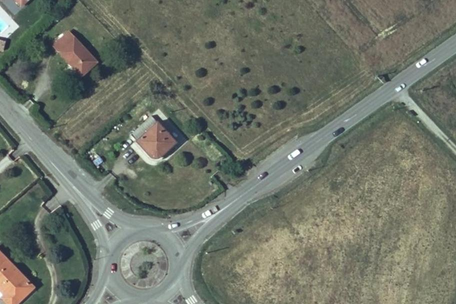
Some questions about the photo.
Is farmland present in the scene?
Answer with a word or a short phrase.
Yes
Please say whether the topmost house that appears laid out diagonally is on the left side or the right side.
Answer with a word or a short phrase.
left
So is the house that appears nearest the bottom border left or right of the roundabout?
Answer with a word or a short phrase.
left of it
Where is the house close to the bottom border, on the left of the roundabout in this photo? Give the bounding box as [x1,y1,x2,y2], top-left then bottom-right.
[0,251,35,304]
